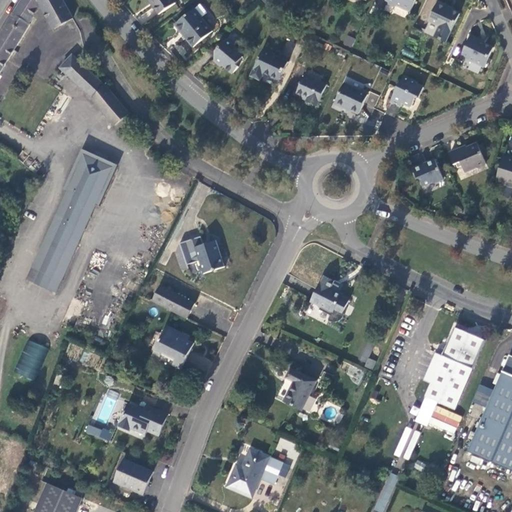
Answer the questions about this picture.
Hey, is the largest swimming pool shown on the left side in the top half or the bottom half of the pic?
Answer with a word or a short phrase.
bottom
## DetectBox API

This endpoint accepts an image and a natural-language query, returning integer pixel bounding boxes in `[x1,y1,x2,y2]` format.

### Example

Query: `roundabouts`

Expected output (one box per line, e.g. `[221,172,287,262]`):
[296,149,373,225]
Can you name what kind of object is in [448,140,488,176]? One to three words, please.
house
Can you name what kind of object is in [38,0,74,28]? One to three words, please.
building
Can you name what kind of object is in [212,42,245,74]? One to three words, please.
house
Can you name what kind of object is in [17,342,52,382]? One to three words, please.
greenhouse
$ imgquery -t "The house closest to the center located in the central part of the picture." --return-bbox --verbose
[180,238,226,276]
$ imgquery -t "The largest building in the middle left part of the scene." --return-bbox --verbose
[26,150,117,293]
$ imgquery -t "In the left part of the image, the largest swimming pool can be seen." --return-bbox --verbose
[97,388,119,425]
